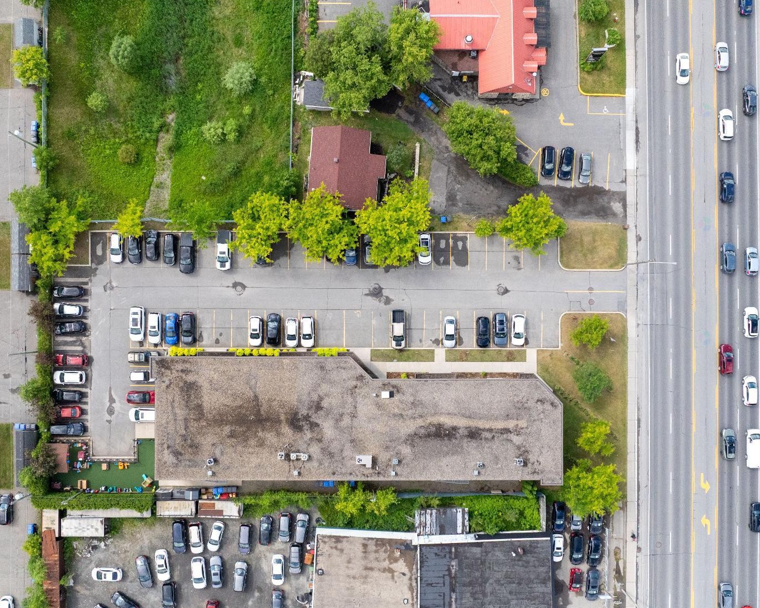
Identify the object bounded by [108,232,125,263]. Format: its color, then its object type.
white car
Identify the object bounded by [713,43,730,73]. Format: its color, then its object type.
white car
